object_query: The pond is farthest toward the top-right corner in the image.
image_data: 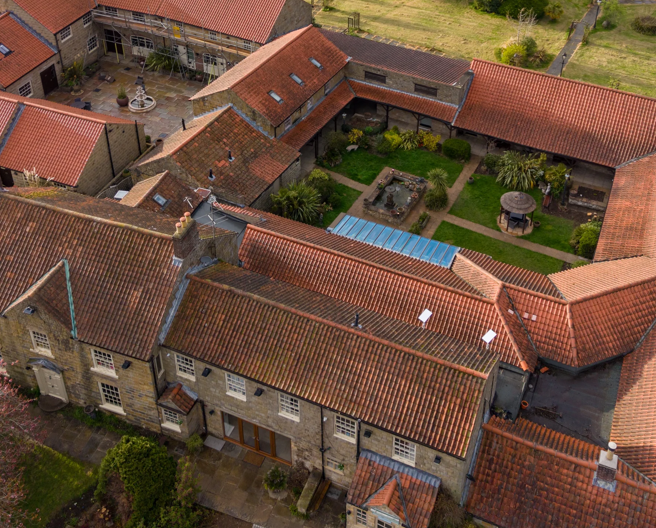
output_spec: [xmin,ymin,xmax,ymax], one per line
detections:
[362,172,427,226]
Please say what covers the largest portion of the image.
buildings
